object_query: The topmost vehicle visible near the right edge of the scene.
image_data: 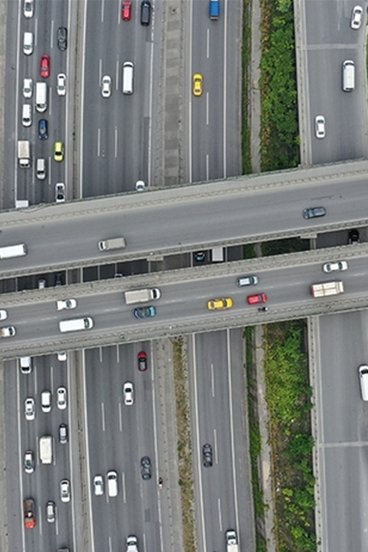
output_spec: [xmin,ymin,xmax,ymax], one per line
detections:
[350,5,363,30]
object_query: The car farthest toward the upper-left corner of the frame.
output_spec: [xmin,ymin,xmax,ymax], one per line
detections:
[22,0,34,18]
